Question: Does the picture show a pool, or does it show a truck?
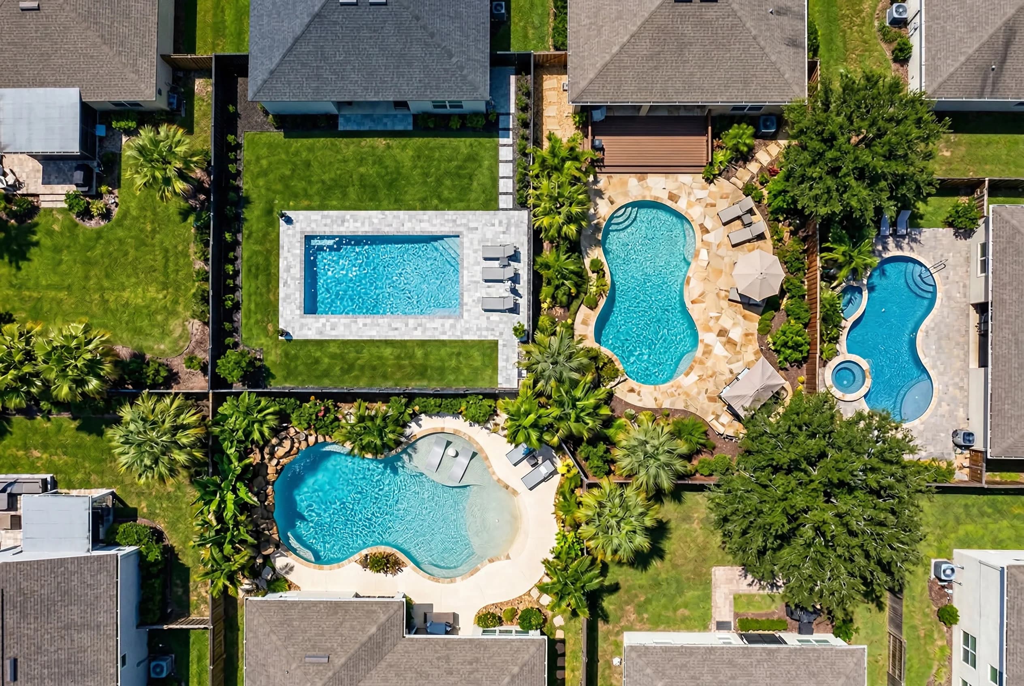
pool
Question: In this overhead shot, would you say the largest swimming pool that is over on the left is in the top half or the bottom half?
bottom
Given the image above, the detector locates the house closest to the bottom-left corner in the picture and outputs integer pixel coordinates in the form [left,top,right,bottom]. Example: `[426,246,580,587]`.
[0,547,139,686]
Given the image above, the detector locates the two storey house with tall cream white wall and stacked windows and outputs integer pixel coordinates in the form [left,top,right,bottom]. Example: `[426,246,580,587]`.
[954,550,1024,686]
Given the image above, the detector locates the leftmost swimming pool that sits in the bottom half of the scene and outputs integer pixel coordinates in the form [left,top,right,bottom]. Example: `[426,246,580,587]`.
[274,429,521,583]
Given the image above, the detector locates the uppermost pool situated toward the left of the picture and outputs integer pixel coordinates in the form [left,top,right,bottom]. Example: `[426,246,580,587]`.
[300,231,464,318]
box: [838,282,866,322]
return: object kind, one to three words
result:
swimming pool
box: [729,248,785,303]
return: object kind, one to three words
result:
umbrella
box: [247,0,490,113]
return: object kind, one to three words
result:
house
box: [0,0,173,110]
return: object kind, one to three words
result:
house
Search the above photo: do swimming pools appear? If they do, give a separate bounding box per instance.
[842,251,942,428]
[300,231,464,318]
[590,195,704,390]
[838,282,866,322]
[274,429,521,583]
